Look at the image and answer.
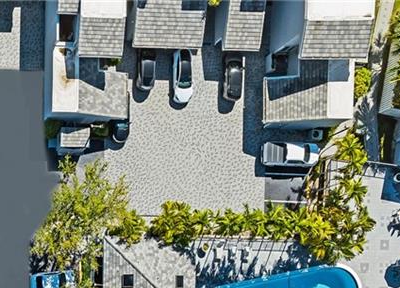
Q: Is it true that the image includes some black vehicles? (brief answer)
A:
Yes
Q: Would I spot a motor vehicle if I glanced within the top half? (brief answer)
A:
Yes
